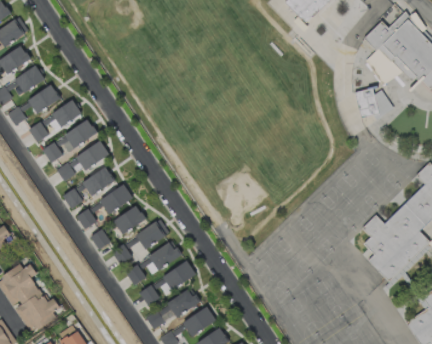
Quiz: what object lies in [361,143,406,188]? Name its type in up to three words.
basketball court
